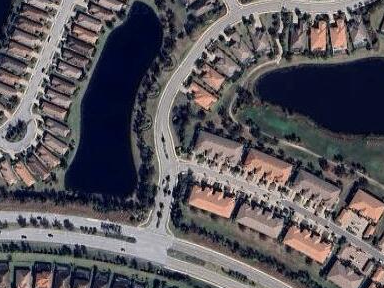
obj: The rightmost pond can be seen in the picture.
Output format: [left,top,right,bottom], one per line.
[64,1,163,197]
